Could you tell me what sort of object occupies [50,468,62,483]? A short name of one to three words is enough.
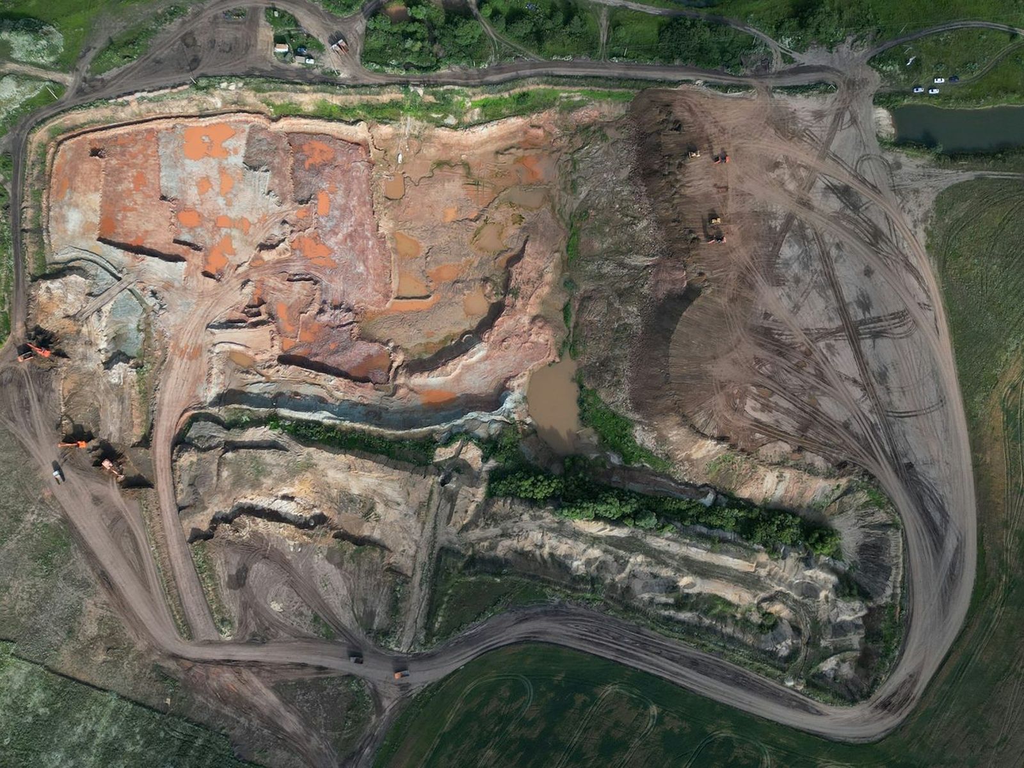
vehicle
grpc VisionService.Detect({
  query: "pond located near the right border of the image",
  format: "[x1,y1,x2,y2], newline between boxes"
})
[893,103,1024,151]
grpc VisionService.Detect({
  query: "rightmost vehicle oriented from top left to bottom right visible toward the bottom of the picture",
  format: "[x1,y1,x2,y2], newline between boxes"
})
[98,460,118,477]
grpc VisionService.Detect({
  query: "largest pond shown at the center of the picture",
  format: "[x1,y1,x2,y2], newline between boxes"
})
[528,364,581,456]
